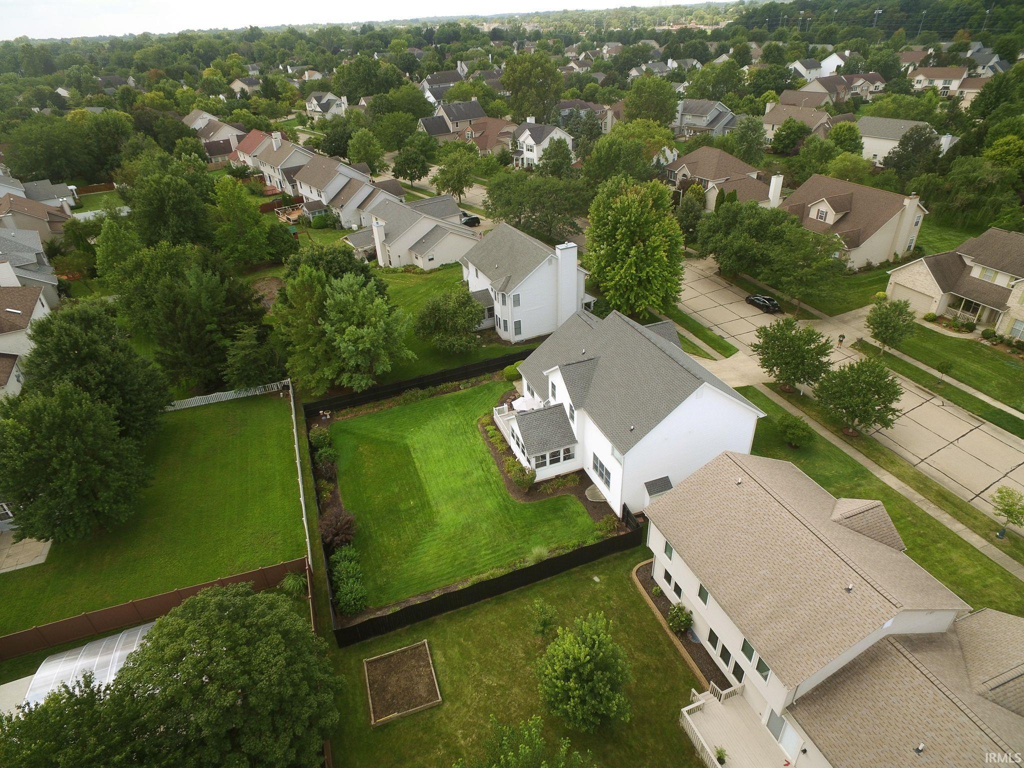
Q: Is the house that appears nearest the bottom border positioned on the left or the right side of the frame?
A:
right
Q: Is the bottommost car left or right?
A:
right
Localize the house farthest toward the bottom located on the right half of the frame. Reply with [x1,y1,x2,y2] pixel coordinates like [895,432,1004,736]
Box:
[640,452,1024,768]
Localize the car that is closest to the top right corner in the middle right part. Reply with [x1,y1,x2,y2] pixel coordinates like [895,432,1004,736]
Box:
[743,294,785,315]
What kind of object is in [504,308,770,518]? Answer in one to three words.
house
